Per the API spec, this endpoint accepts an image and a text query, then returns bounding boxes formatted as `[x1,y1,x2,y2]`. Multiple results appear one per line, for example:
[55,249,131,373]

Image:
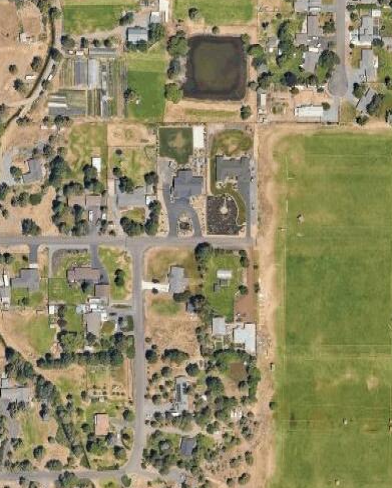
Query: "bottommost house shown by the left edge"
[1,379,31,405]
